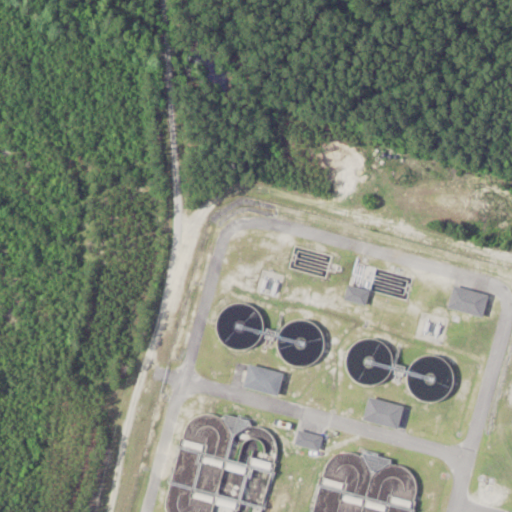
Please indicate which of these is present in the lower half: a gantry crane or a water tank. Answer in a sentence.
It is a water tank that can be seen in the lower half.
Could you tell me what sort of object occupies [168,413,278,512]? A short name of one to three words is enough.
water tank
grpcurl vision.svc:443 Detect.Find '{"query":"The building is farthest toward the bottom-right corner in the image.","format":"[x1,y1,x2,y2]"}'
[364,398,404,428]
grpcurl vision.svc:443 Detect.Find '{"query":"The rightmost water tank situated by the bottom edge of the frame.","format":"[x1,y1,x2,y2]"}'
[312,452,418,512]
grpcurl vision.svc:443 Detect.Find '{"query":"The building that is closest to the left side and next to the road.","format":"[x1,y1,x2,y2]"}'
[243,365,283,396]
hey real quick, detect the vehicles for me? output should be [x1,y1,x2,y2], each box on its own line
[308,451,322,457]
[276,422,292,430]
